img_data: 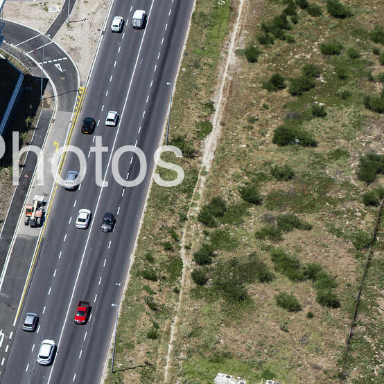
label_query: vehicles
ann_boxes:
[75,209,91,230]
[74,297,92,327]
[105,111,119,128]
[131,10,146,29]
[81,118,95,135]
[111,18,124,32]
[26,195,45,223]
[38,340,56,366]
[22,312,39,333]
[100,211,116,234]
